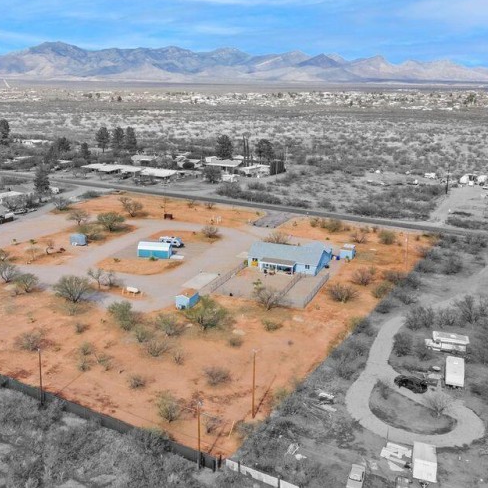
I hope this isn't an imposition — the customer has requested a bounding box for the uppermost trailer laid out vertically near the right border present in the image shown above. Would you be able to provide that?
[444,356,464,402]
